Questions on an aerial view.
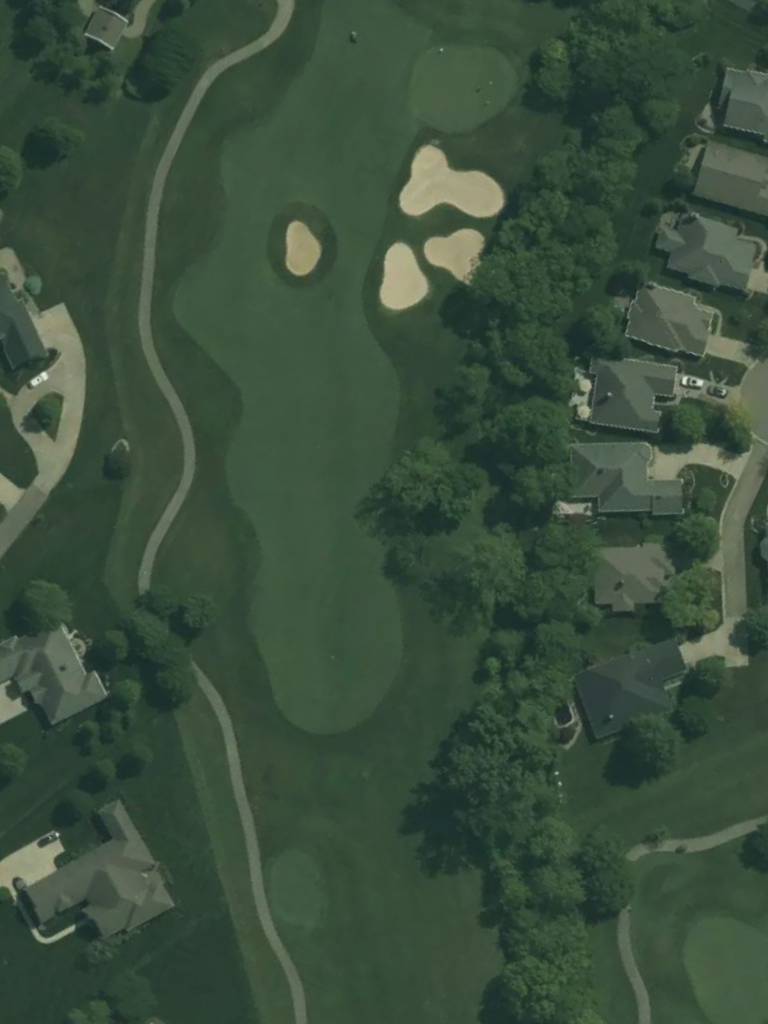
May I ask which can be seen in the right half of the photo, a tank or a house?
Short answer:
house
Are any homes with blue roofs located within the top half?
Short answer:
No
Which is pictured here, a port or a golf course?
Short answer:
golf course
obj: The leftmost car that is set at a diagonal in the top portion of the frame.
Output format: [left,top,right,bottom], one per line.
[28,372,49,389]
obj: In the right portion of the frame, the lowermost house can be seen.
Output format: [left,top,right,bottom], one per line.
[575,639,688,739]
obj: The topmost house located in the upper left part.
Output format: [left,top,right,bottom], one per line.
[85,6,128,50]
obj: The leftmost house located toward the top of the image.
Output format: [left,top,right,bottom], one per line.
[0,273,47,372]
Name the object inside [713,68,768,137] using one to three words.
house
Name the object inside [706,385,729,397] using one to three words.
vehicle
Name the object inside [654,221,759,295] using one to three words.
house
